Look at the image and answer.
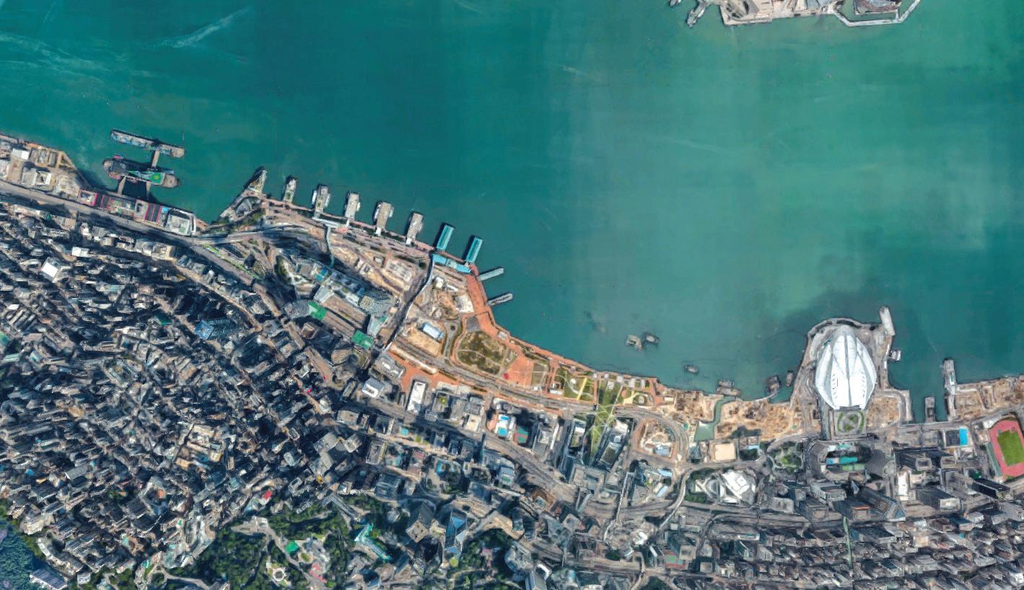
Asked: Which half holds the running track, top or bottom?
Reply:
bottom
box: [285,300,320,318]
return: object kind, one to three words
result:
building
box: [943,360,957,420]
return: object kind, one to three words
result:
pier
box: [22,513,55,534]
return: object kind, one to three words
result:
house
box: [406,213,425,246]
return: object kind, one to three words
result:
pier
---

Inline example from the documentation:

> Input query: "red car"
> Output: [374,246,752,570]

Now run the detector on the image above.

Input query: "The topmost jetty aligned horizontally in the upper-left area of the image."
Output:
[111,130,186,157]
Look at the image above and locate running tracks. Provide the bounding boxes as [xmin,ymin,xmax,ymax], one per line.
[989,419,1024,481]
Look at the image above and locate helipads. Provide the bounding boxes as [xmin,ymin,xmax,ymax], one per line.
[128,171,165,186]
